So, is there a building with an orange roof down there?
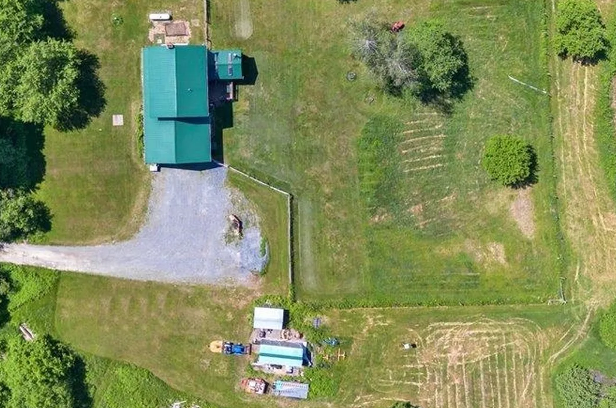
No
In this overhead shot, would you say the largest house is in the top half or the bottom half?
top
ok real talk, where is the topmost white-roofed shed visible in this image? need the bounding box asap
[254,309,284,333]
